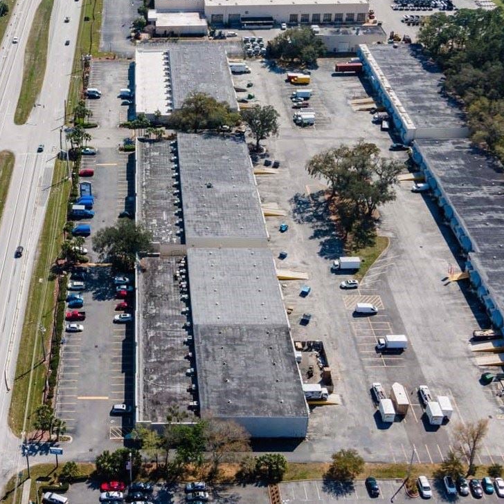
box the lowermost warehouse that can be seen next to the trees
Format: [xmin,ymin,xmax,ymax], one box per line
[136,247,309,441]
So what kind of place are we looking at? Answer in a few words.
industrial area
